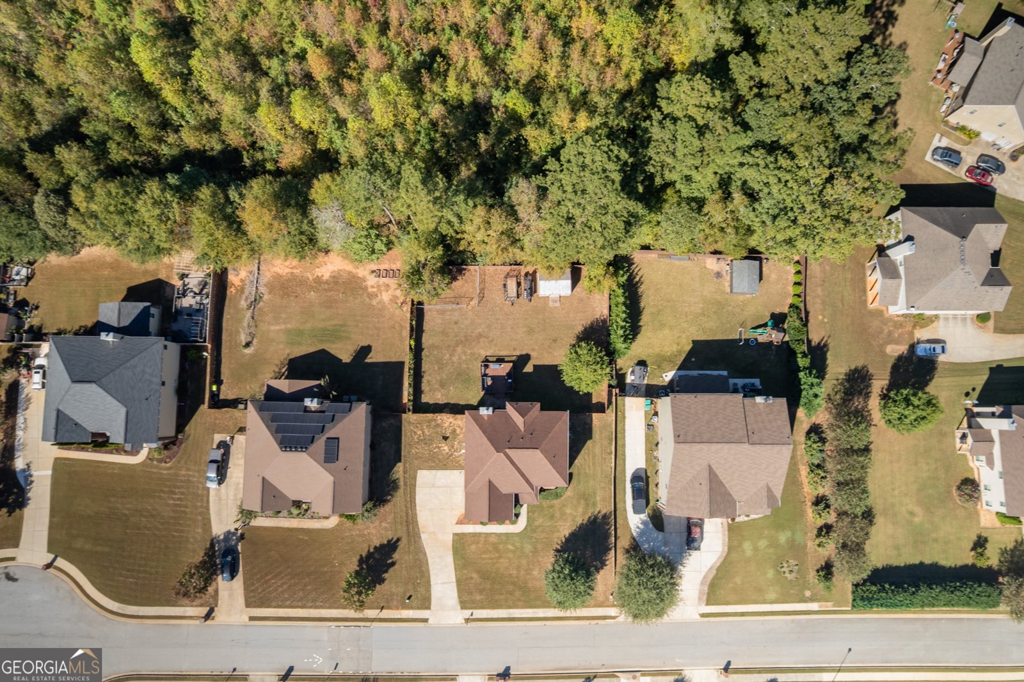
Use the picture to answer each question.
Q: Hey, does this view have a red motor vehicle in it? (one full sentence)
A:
Yes, there's a red motor vehicle down there.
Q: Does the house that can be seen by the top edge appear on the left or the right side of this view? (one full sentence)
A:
It is on the right.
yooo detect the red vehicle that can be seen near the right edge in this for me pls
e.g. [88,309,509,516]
[963,167,994,186]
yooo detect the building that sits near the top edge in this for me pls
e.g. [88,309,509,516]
[943,13,1024,132]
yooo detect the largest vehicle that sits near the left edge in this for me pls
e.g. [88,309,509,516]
[31,356,48,388]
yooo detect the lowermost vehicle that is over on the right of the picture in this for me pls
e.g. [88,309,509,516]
[687,516,703,551]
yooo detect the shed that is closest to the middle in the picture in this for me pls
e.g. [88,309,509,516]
[539,267,571,306]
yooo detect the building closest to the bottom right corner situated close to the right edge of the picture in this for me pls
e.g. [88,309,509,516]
[953,405,1024,517]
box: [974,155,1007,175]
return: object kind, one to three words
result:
car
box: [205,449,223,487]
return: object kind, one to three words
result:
vehicle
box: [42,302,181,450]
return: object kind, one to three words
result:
house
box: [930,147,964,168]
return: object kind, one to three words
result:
car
